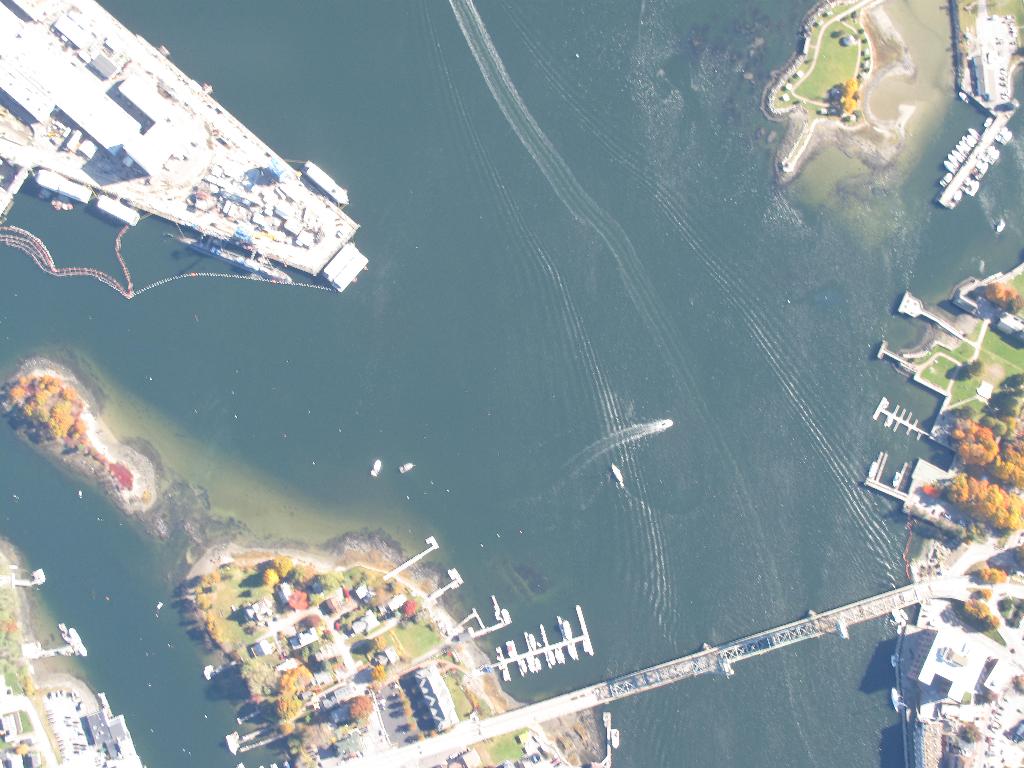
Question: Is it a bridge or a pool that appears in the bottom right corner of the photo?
bridge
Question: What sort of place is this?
port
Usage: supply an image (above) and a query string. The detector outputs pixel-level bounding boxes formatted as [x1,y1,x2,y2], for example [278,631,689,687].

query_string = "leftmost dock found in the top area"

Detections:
[0,165,32,221]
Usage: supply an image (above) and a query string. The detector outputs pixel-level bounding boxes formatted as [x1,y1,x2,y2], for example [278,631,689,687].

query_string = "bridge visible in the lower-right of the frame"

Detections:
[602,583,920,701]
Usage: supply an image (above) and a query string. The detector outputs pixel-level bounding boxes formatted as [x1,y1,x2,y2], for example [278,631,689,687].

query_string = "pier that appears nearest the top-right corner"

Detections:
[936,110,1008,208]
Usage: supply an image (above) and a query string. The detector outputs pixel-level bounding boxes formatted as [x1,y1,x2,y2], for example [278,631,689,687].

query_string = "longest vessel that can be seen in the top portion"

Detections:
[174,236,295,282]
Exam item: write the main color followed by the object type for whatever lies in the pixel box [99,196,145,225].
white ship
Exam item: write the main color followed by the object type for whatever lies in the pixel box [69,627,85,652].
white boat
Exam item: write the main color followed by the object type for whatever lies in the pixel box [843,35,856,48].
white gazebo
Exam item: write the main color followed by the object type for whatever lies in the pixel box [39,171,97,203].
white ship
